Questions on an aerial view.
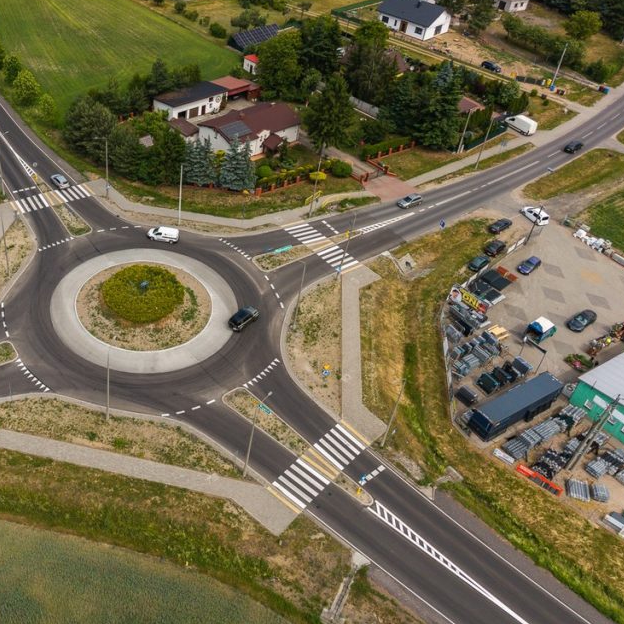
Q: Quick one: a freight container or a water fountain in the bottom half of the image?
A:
freight container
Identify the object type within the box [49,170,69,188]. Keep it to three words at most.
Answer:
car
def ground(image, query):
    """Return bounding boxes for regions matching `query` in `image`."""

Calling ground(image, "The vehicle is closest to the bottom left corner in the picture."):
[227,303,263,327]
